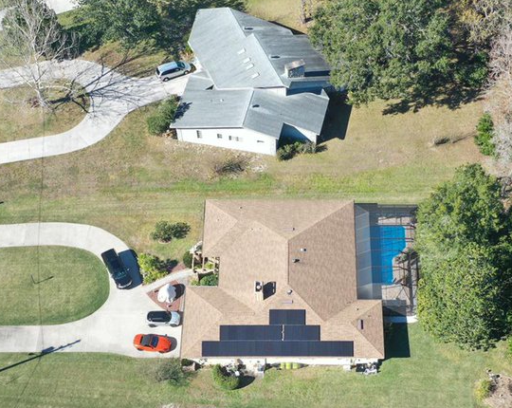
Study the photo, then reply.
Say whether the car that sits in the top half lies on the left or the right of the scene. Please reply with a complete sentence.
The car that sits in the top half appears in the left half of the scene.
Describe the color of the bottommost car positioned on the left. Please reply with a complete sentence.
The color of the bottommost car positioned on the left is red.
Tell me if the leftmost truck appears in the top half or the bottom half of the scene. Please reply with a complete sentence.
The leftmost truck sits in the bottom half of the picture.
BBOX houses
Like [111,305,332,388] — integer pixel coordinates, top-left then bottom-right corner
[180,199,385,365]
[170,7,333,150]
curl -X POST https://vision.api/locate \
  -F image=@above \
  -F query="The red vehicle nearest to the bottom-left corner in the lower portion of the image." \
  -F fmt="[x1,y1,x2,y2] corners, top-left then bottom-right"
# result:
[132,332,172,352]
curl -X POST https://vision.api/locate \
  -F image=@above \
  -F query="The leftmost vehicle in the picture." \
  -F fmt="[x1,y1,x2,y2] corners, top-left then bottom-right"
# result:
[101,248,133,286]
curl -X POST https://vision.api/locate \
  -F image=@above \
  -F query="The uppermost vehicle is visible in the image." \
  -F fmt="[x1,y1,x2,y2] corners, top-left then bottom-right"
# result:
[157,59,191,80]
